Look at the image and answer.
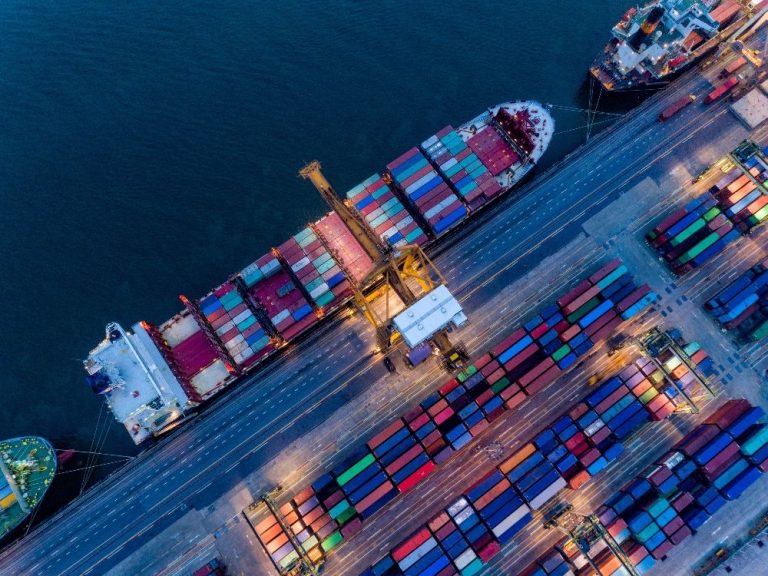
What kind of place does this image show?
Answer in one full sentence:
This looks like a port.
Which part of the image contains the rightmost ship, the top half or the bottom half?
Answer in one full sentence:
It is in the top half that the rightmost ship appears.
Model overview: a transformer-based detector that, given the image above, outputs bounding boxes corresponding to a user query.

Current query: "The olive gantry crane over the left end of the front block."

[237,484,327,576]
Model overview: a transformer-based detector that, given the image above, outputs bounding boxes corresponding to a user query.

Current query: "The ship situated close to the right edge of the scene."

[591,0,768,90]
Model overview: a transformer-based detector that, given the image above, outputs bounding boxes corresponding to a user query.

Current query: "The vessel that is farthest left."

[0,442,73,540]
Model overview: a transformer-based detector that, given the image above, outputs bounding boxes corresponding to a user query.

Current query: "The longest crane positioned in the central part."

[293,150,475,375]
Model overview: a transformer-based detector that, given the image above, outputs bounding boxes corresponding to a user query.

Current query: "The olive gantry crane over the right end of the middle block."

[617,328,722,418]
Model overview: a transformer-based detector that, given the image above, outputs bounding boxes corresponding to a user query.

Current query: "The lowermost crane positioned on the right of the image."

[547,505,644,576]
